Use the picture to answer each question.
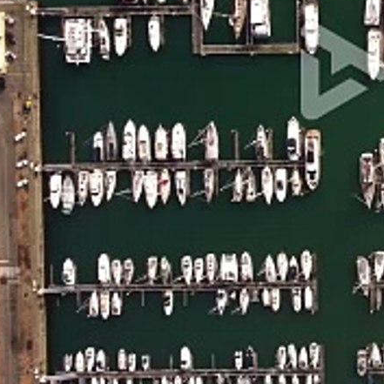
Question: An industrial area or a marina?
marina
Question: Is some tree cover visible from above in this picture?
No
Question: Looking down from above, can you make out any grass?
No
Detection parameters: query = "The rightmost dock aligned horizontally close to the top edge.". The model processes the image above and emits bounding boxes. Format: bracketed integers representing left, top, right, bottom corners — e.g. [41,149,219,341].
[69,0,304,54]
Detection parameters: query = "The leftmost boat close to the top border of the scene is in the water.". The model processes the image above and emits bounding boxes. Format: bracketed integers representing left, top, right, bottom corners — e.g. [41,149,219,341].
[45,18,90,63]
